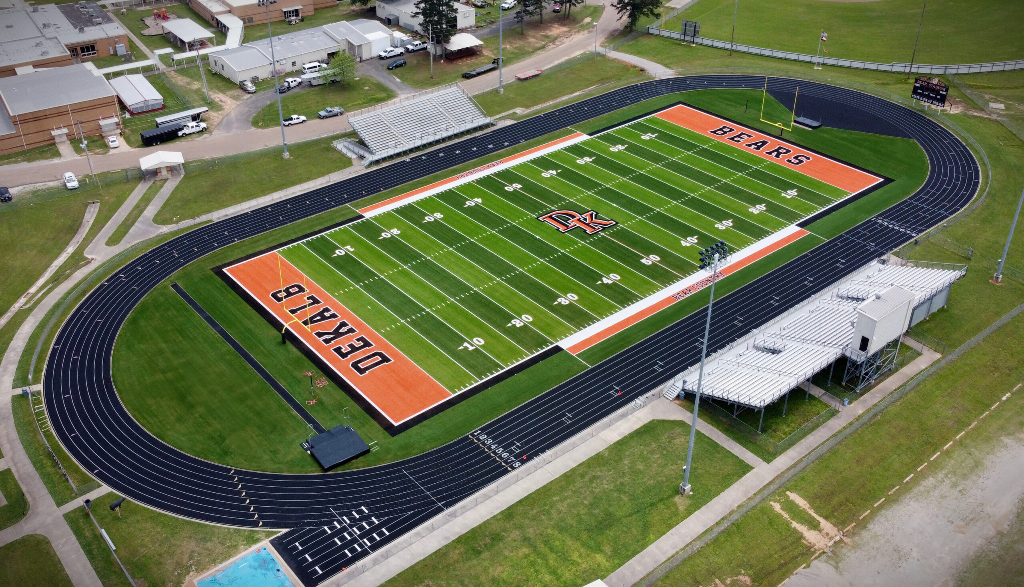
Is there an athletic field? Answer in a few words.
Yes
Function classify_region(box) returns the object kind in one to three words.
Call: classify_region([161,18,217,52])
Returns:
building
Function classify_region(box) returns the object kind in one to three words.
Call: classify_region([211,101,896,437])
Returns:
sports field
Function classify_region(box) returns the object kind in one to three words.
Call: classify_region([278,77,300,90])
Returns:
vehicle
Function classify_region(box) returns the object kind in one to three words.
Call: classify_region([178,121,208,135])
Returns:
vehicle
